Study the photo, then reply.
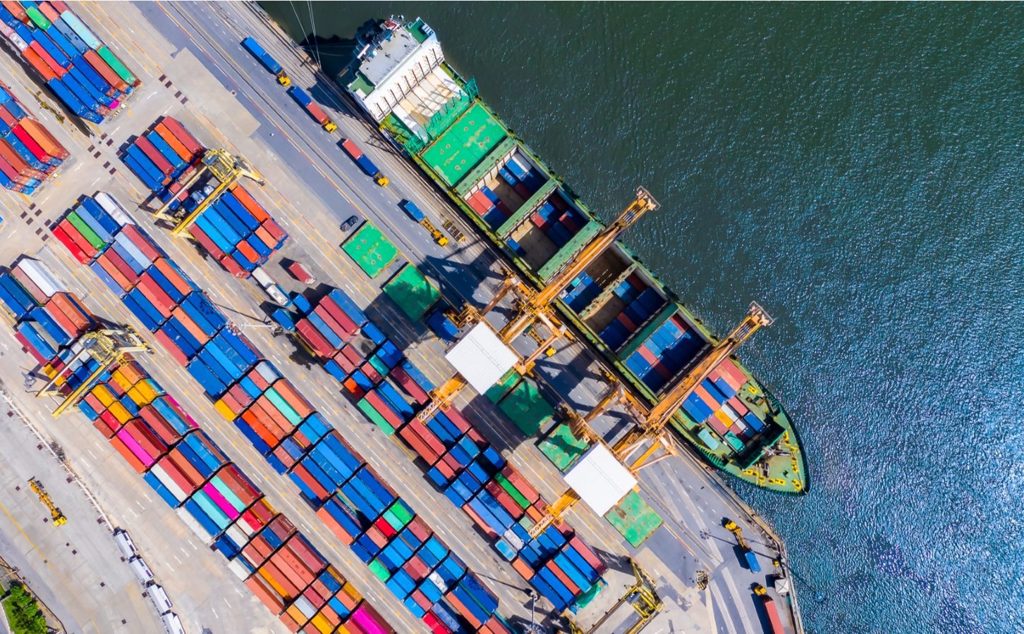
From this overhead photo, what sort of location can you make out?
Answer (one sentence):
It's a port.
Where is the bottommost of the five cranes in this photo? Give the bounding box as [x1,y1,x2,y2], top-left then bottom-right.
[563,554,664,634]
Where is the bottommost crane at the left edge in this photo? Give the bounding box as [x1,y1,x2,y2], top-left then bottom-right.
[31,323,157,419]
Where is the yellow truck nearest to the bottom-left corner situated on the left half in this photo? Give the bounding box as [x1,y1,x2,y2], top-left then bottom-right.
[26,477,70,529]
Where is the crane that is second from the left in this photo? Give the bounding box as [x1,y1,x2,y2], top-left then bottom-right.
[151,148,268,249]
